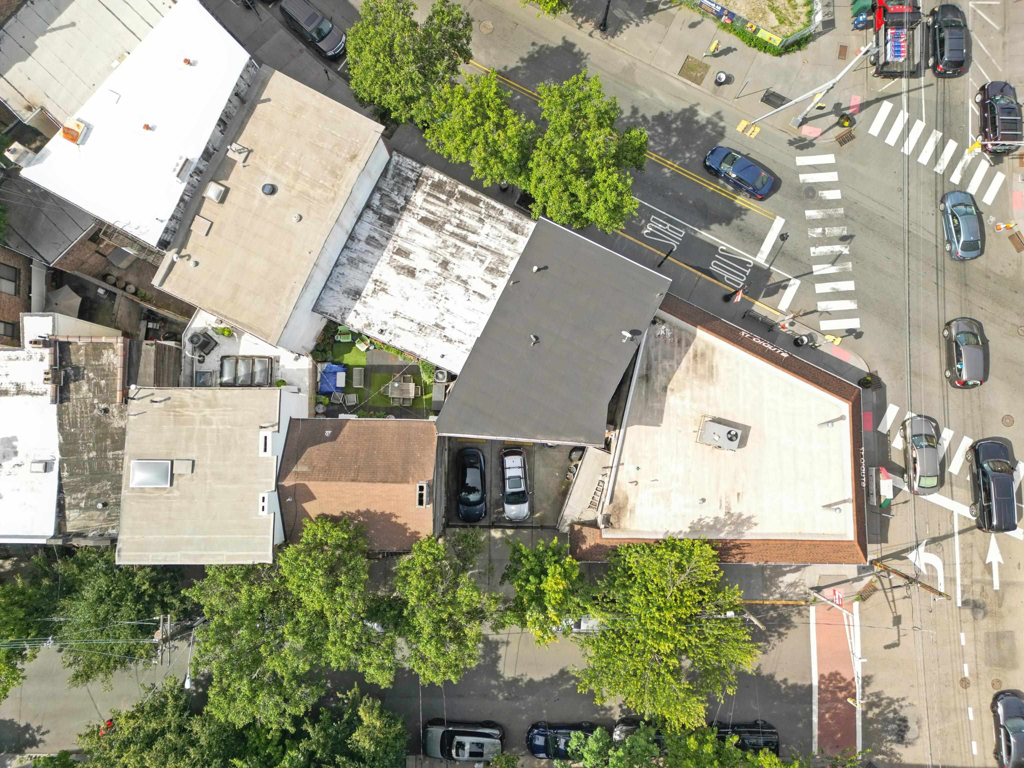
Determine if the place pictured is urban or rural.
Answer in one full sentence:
From above, the setting appears urban.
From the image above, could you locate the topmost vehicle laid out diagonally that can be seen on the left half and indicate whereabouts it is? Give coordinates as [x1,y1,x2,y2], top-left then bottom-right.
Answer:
[273,0,346,56]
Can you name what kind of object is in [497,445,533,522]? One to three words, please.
car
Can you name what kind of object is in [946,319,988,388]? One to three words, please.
car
